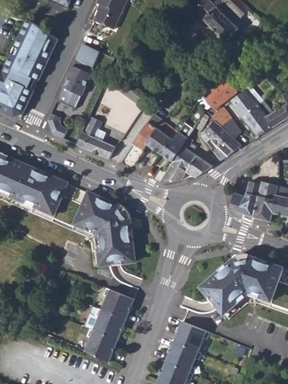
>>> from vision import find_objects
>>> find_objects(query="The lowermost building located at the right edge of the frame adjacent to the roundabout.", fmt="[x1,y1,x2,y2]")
[198,255,286,325]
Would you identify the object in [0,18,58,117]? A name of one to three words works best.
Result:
building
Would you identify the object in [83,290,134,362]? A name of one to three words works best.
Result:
house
